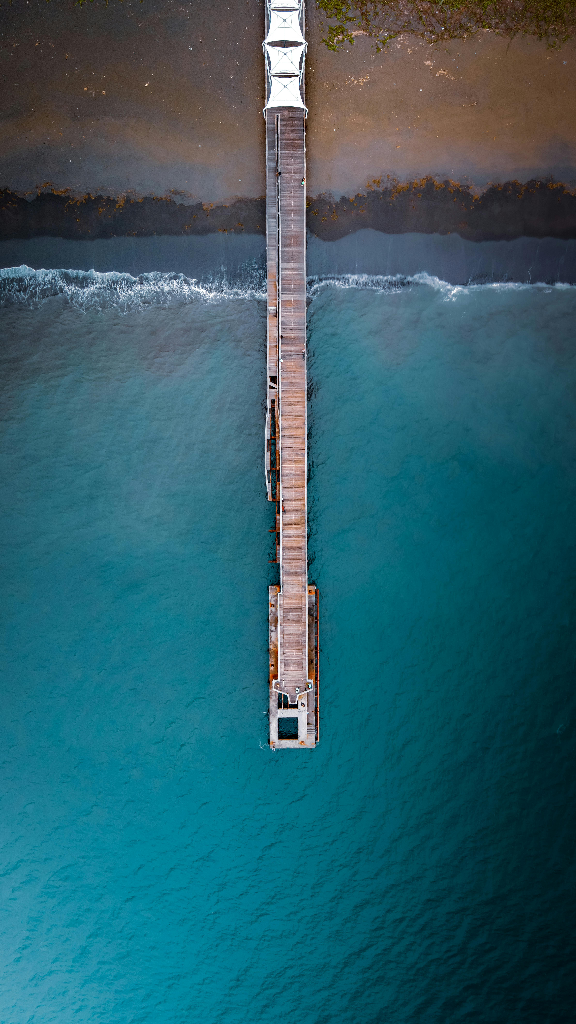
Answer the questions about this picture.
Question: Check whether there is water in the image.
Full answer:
Yes, the picture does contain water.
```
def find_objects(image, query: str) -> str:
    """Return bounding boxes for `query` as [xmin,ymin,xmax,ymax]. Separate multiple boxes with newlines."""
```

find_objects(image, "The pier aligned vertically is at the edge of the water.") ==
[266,0,314,704]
